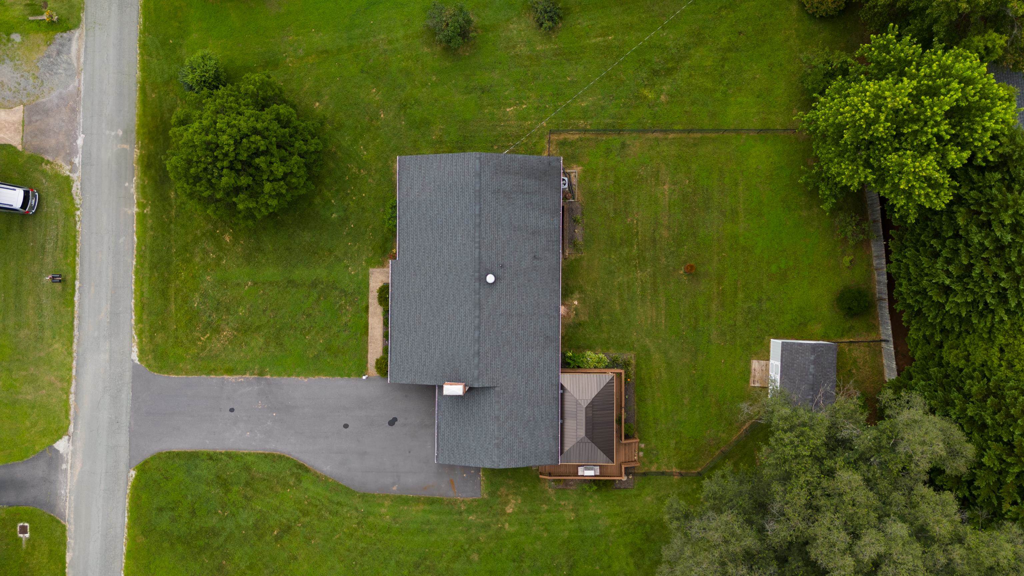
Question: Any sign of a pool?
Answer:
No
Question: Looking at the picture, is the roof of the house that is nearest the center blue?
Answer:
No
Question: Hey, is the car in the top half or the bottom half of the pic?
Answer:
top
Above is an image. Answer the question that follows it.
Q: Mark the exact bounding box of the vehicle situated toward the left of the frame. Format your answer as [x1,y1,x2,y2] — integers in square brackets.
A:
[0,182,42,215]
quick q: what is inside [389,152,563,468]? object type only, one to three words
house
